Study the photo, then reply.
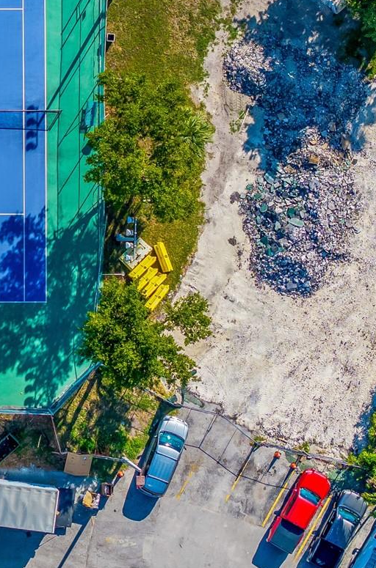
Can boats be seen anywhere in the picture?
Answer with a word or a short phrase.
No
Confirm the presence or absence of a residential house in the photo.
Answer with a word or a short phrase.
No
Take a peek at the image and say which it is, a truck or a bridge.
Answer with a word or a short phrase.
truck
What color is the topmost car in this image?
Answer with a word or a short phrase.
blue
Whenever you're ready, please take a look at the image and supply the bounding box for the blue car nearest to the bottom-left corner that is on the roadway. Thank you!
[136,412,189,500]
